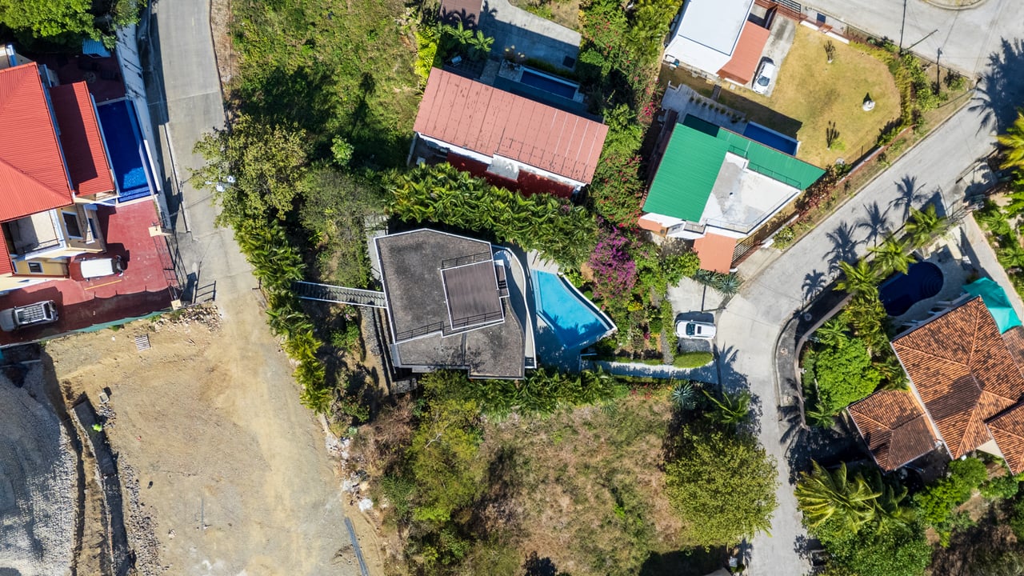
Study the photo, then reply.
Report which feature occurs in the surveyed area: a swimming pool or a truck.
swimming pool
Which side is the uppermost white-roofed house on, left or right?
right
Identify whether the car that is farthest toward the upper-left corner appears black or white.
white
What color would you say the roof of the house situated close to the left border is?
red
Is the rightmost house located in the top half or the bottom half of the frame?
bottom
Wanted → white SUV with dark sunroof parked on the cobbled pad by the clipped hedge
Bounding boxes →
[673,317,718,339]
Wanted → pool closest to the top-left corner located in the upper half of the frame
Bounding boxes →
[98,99,149,198]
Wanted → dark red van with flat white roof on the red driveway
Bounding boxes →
[77,255,126,278]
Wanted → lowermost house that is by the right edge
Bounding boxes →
[839,290,1024,475]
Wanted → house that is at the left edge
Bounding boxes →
[0,45,123,289]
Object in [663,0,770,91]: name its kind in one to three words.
house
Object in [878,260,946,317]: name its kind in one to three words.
swimming pool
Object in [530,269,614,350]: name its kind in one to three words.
swimming pool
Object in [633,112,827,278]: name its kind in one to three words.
building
